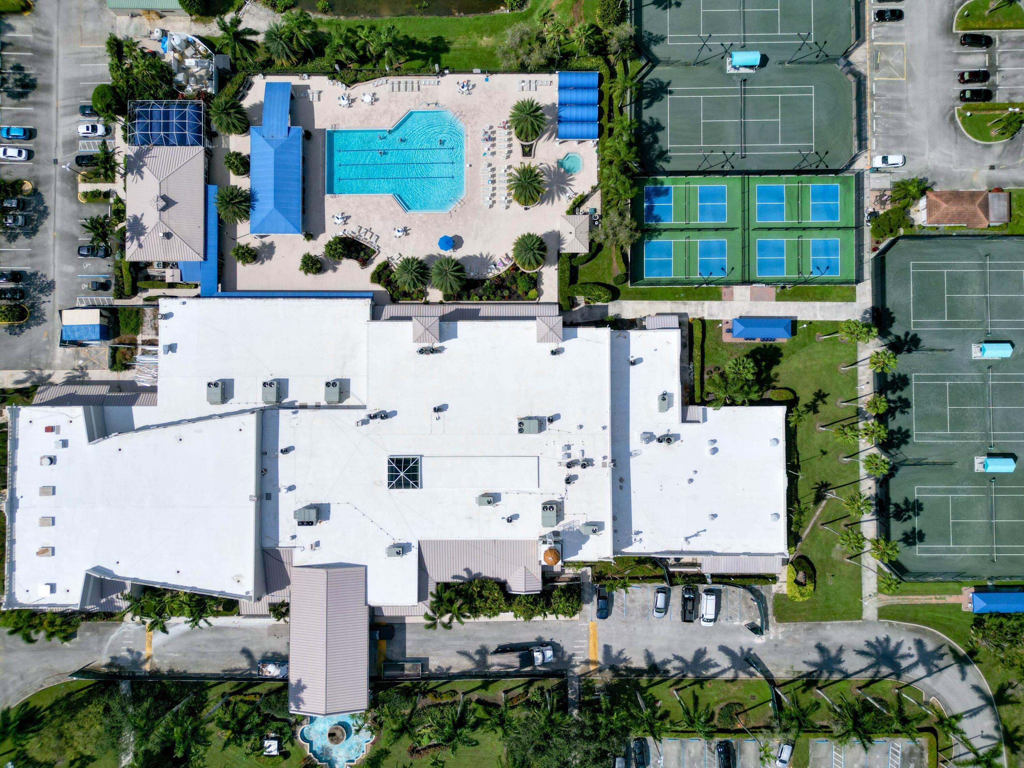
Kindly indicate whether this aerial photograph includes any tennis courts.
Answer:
Yes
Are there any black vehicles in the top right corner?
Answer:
Yes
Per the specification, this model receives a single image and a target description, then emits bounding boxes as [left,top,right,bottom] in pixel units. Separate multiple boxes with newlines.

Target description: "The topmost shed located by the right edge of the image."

[913,191,1011,228]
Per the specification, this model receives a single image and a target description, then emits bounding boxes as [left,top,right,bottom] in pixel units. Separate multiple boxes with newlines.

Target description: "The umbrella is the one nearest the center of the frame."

[438,236,453,251]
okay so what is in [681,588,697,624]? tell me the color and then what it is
black vehicle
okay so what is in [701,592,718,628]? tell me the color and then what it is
white vehicle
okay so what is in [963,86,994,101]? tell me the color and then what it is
black car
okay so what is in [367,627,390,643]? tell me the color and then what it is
black car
